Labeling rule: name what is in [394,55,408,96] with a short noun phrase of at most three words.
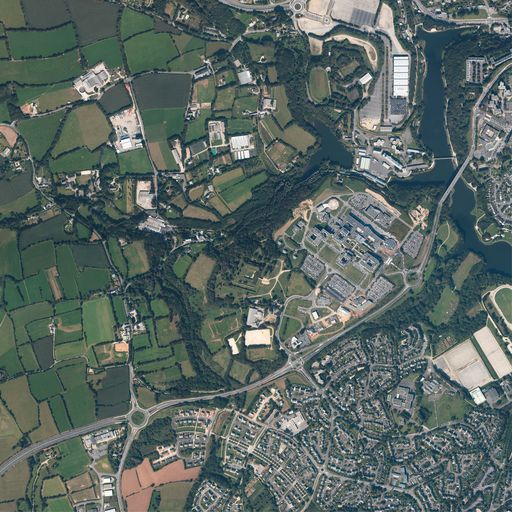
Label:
building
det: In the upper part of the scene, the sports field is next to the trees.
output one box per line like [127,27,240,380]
[310,66,330,104]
